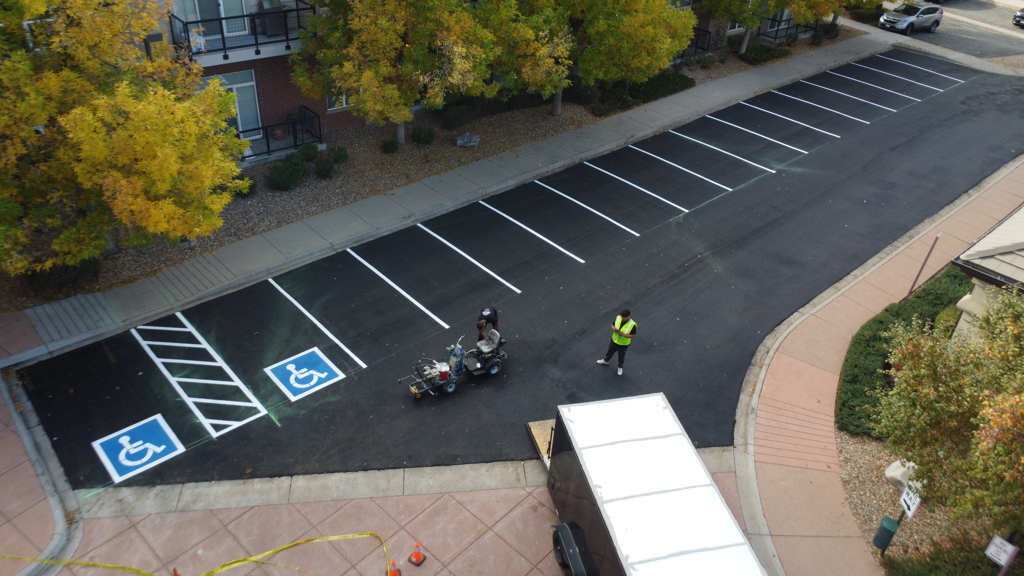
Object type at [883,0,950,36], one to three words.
car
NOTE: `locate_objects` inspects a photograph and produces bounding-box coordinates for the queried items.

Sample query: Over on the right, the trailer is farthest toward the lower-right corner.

[524,392,767,576]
